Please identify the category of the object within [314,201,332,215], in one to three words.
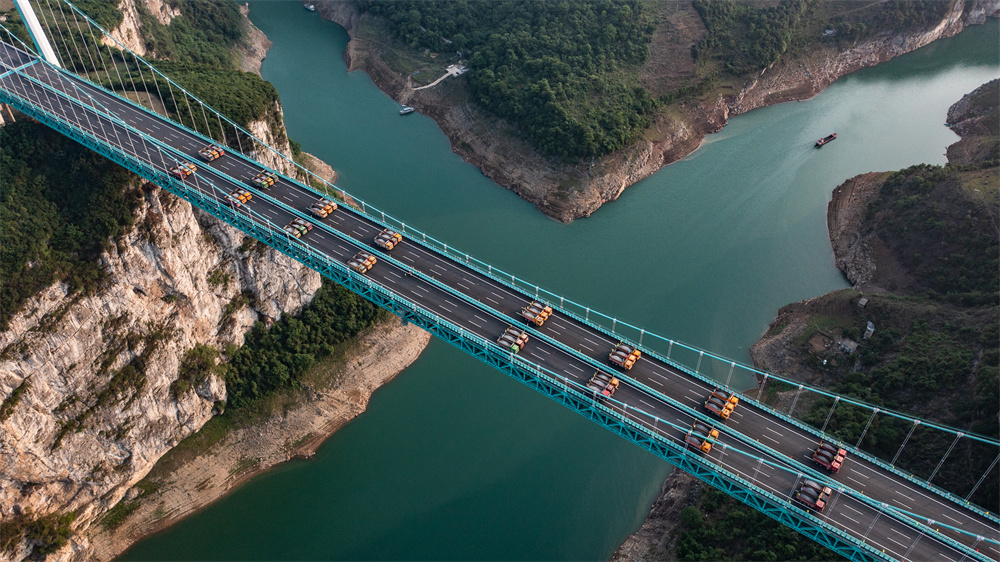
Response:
vehicle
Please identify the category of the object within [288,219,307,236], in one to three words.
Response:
vehicle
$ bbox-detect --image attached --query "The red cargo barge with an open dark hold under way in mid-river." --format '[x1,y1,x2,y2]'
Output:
[812,131,838,148]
